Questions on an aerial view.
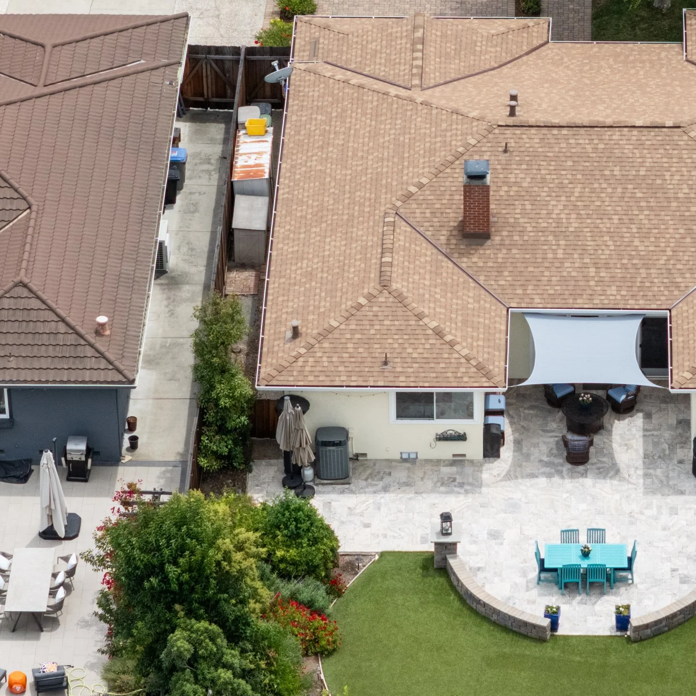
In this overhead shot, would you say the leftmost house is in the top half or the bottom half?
top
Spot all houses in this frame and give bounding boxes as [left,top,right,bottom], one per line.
[252,8,696,459]
[0,9,193,462]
